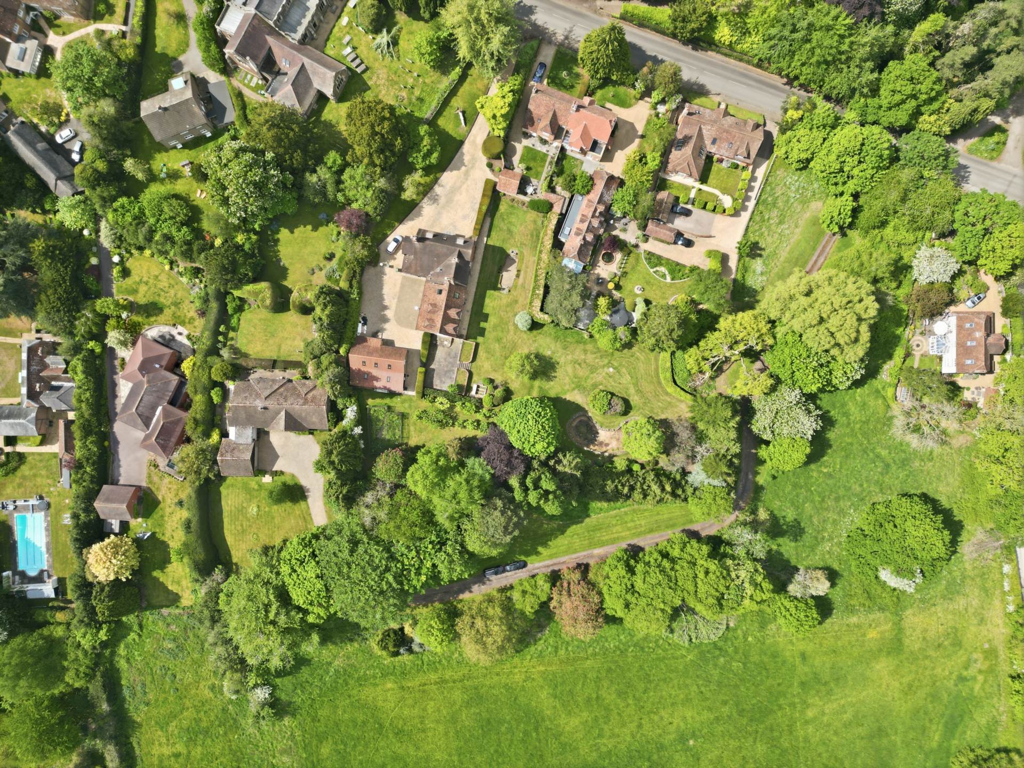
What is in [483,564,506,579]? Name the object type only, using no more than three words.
car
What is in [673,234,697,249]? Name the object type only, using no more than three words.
car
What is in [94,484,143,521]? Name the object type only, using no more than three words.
building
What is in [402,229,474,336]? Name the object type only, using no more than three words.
house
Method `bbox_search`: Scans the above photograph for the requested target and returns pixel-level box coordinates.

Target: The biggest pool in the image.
[13,512,47,577]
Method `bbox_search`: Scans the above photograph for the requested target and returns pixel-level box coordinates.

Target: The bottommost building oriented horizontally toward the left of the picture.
[12,575,66,599]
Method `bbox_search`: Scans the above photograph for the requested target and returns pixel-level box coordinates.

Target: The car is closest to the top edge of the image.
[532,61,547,85]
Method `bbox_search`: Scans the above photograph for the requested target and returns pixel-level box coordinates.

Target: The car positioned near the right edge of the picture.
[964,290,988,309]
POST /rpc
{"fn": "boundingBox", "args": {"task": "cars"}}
[483,564,506,579]
[669,204,693,219]
[964,290,988,309]
[504,559,527,573]
[673,234,697,249]
[384,233,405,257]
[71,139,86,163]
[532,61,547,85]
[54,125,78,146]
